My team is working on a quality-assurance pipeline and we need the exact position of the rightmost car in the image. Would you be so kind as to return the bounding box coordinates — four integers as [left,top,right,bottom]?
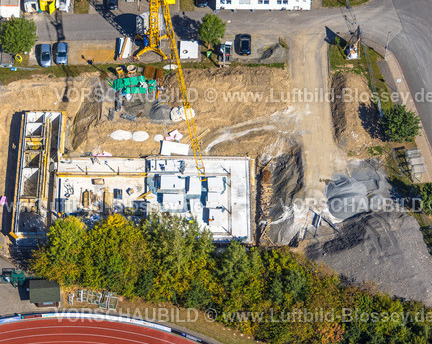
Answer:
[239,30,253,55]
